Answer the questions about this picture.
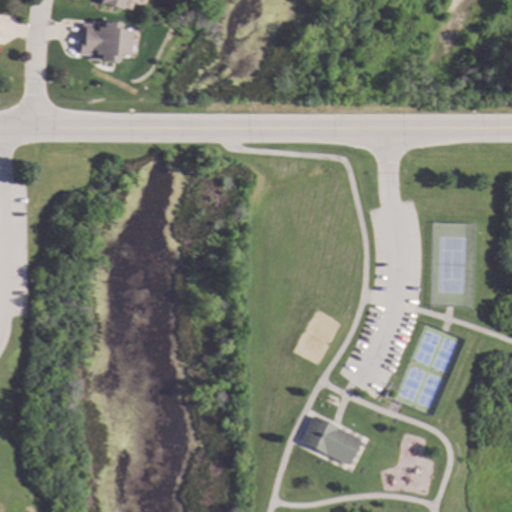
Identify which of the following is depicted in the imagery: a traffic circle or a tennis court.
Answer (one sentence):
This aerial view contains a tennis court.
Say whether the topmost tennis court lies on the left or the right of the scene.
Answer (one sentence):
The topmost tennis court is on the right side of the image.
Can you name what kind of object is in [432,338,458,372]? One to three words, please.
sports court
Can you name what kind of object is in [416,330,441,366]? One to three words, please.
sports court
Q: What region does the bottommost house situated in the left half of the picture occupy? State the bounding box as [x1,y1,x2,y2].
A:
[81,20,140,62]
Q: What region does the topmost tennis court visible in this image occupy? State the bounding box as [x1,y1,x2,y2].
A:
[430,223,476,307]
